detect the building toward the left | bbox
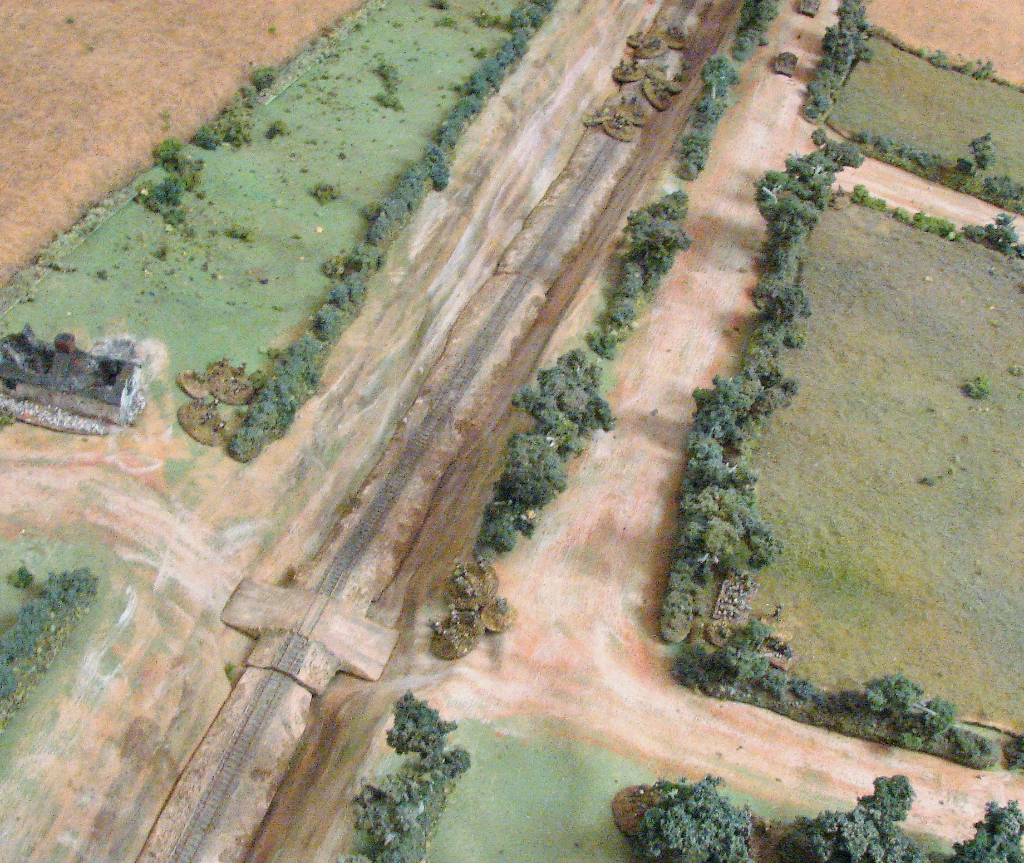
[0,327,148,444]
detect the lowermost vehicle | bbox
[770,49,799,77]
